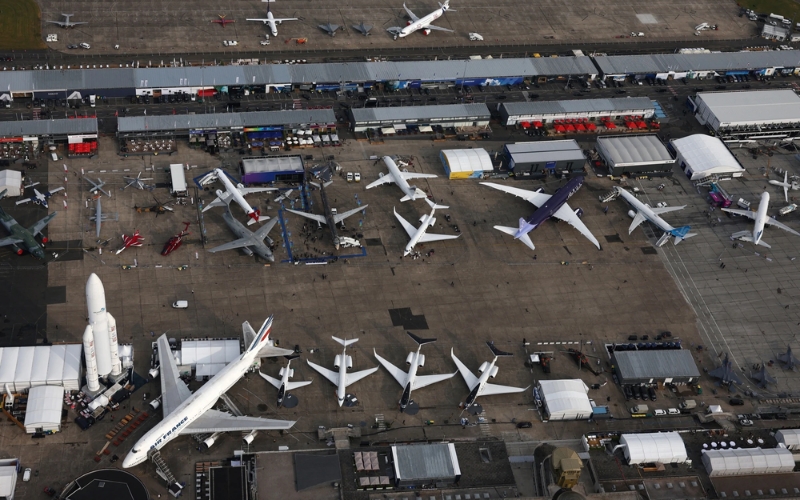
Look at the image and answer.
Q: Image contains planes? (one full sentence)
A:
Yes, the picture does show a plane.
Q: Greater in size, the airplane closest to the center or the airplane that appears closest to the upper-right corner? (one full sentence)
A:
Of the two, the airplane closest to the center is larger and the airplane that appears closest to the upper-right corner is the smaller one.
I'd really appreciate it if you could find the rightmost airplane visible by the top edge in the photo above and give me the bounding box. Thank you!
[396,0,455,39]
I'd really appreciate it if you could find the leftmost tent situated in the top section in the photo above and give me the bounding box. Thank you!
[0,171,20,196]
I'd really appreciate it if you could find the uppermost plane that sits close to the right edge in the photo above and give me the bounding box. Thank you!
[769,169,794,198]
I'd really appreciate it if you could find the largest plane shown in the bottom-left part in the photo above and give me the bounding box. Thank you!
[122,323,295,469]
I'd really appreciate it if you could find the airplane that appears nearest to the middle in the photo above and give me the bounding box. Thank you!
[394,196,462,255]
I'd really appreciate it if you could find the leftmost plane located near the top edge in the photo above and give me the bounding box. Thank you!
[46,11,88,30]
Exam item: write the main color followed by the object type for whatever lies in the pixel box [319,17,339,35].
gray airplane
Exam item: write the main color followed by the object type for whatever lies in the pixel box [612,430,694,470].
white tent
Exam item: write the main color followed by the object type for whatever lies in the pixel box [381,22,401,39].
gray airplane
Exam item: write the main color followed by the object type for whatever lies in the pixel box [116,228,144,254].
red airplane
